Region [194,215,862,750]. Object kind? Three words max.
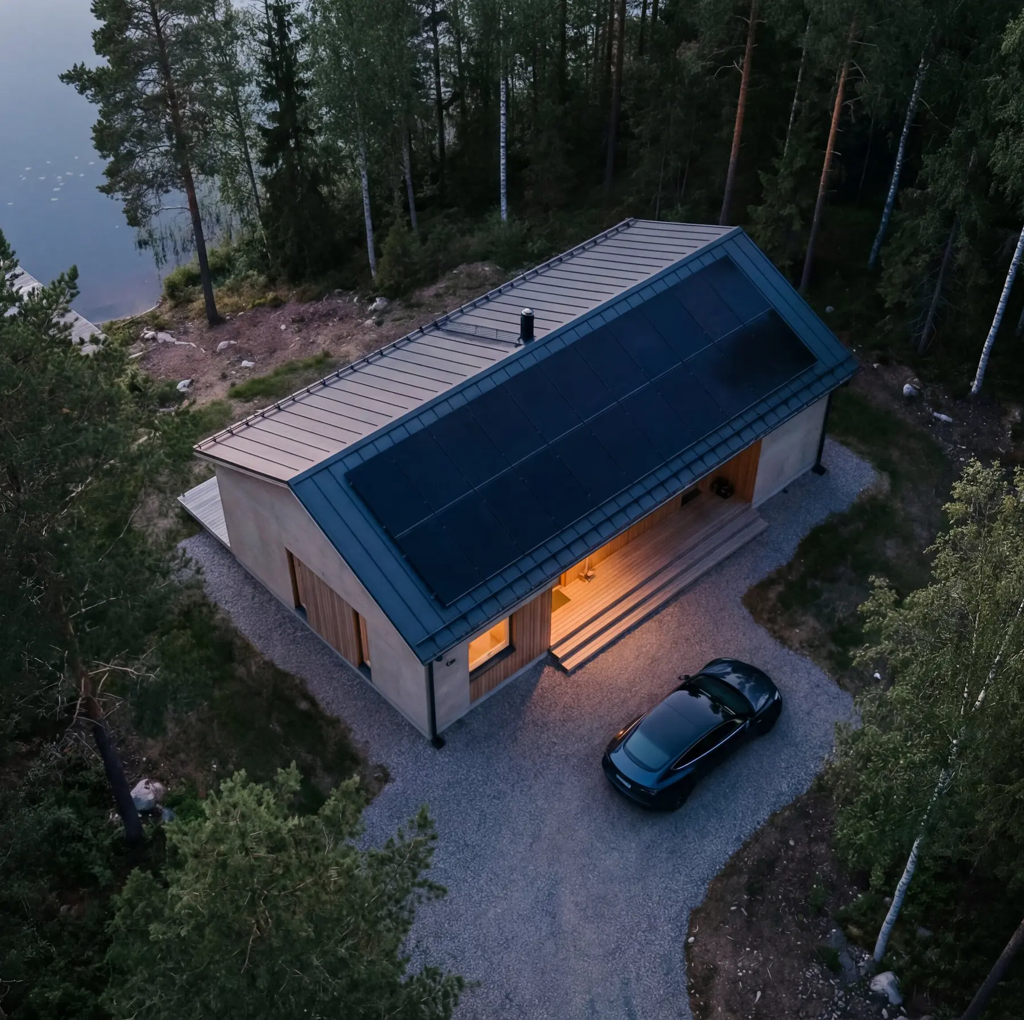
house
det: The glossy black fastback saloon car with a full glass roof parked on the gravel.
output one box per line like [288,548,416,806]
[603,656,787,811]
